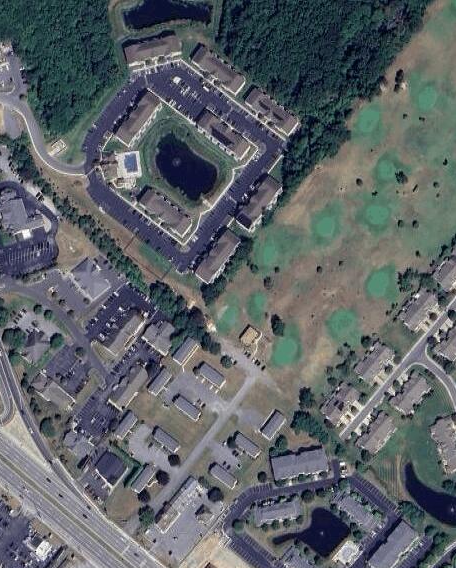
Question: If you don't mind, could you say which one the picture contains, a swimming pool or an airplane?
swimming pool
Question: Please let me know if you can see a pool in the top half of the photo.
Yes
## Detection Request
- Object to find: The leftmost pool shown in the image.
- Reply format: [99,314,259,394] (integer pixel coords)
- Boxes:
[113,150,142,188]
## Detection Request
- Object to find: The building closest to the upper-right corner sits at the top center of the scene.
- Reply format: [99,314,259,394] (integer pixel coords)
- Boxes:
[247,90,301,137]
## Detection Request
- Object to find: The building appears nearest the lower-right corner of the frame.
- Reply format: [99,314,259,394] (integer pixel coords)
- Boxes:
[369,521,419,568]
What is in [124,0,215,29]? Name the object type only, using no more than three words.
pond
